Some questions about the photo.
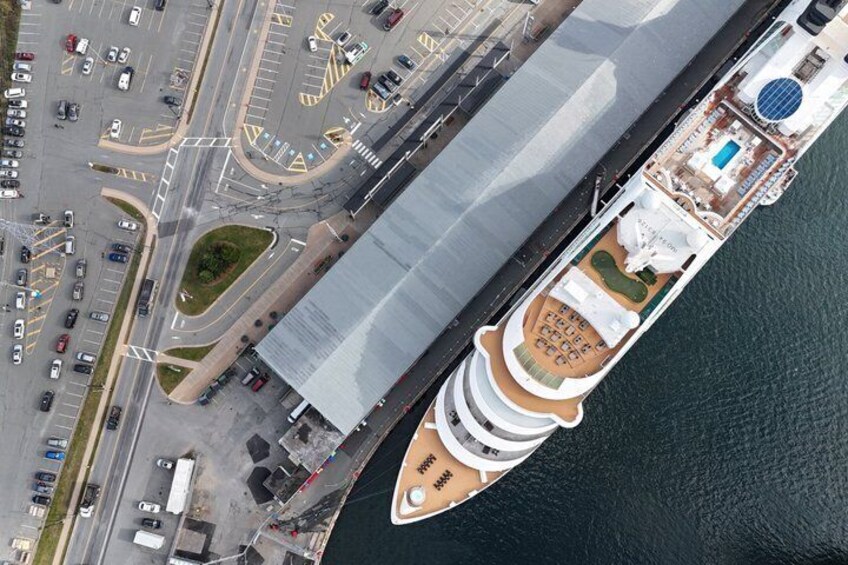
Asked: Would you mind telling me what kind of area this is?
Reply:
port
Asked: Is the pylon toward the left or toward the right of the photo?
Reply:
left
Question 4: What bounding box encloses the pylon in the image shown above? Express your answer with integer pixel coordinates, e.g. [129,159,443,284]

[0,220,66,260]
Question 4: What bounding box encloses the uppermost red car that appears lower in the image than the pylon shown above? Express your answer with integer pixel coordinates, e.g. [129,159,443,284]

[55,333,70,353]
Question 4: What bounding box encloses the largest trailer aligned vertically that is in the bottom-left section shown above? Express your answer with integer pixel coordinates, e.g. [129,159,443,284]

[167,456,197,514]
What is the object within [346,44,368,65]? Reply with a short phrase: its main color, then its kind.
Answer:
white truck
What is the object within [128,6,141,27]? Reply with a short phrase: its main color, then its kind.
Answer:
white vehicle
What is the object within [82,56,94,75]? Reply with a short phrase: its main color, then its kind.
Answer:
white vehicle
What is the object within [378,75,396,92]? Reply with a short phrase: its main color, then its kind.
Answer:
gray car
